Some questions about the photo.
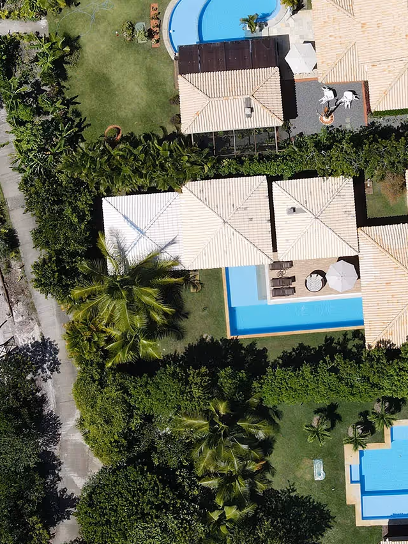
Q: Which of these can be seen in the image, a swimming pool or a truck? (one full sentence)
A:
Looking from above, you can make out a swimming pool.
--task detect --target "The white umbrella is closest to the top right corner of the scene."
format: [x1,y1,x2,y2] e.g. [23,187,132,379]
[282,40,317,75]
